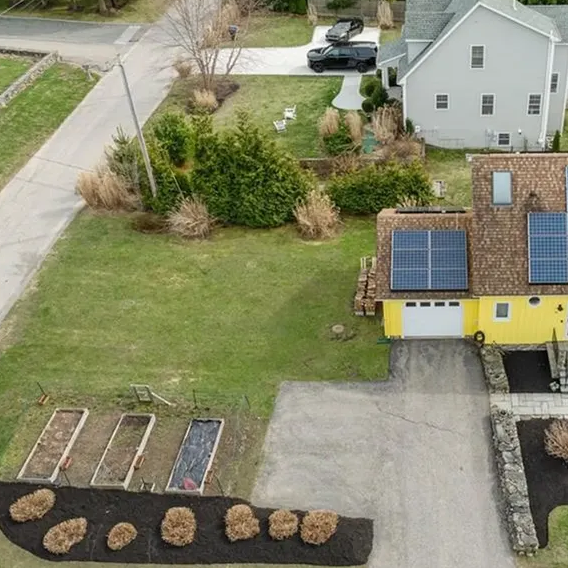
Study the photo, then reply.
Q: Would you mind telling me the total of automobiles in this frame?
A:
2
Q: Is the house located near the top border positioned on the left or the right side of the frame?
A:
right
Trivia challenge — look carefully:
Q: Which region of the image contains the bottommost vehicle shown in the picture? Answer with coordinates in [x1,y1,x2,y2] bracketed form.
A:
[310,40,377,69]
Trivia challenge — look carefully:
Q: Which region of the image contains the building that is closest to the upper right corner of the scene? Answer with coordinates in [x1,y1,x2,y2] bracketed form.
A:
[372,0,568,148]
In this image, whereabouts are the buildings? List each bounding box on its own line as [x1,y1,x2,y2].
[376,151,568,352]
[372,0,568,148]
